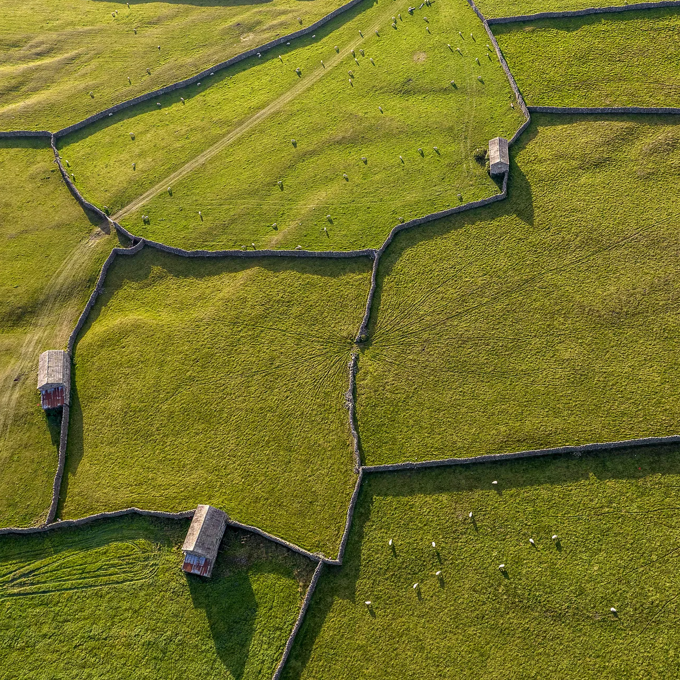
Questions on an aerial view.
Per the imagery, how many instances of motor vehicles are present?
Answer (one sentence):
The picture shows no motor vehicles.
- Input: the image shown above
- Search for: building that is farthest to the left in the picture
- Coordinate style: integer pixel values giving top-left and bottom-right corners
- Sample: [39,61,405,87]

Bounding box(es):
[37,348,70,412]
